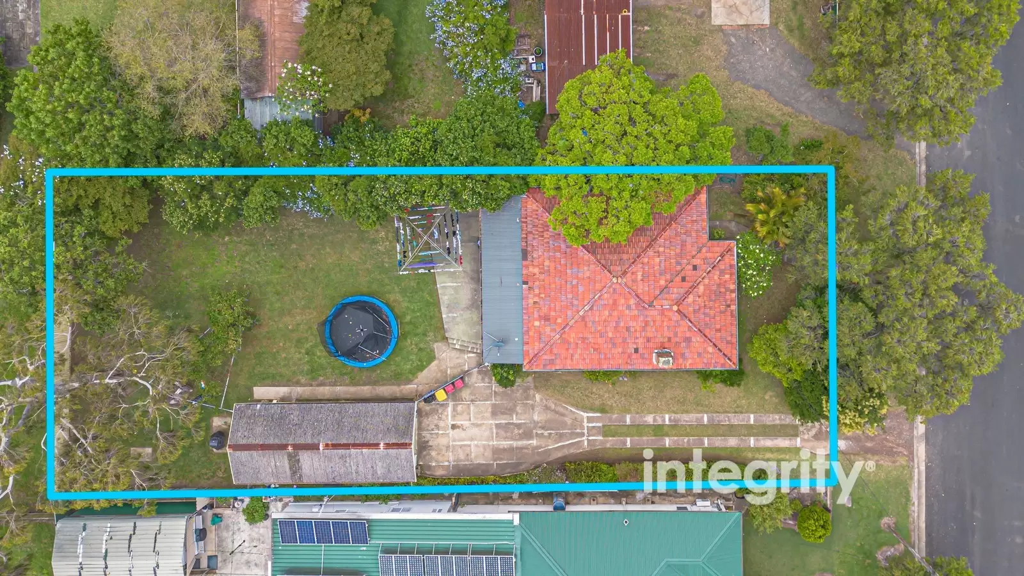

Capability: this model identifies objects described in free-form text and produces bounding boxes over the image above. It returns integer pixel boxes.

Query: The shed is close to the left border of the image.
[47,505,213,576]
